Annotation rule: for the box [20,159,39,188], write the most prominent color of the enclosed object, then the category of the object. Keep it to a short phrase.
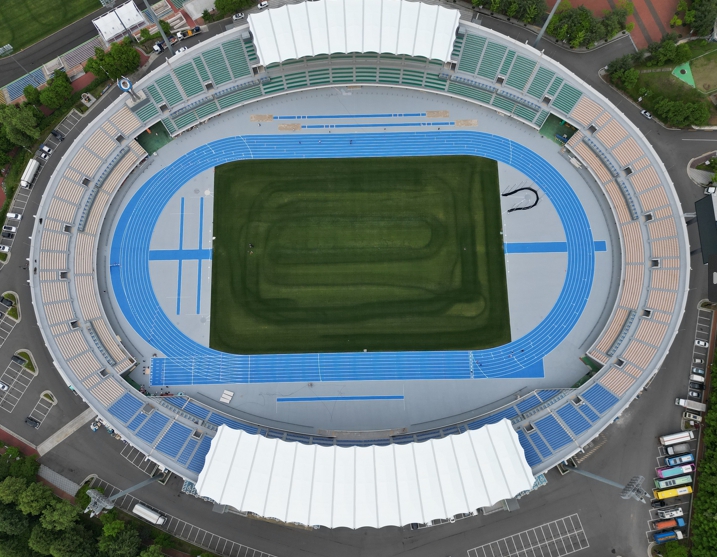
white vehicle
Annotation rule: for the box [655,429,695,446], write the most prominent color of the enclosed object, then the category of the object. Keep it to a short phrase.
white vehicle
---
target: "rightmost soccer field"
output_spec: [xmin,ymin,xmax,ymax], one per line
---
[209,156,511,354]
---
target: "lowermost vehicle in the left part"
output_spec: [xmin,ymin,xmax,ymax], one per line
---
[132,505,168,526]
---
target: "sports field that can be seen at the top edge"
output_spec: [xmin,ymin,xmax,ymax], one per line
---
[0,0,156,86]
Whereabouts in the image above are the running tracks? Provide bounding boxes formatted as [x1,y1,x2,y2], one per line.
[109,110,606,410]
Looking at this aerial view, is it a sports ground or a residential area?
sports ground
